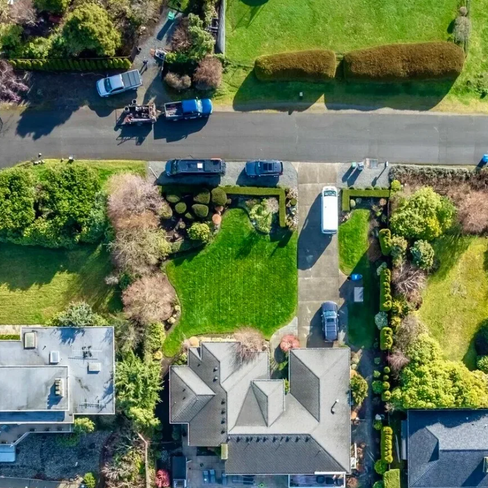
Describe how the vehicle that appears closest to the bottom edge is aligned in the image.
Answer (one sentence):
From this overhead view, the vehicle that appears closest to the bottom edge appears to run up and down.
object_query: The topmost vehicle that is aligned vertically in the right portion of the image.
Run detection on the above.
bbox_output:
[319,186,341,236]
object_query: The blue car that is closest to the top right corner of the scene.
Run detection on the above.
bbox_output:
[244,157,284,178]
